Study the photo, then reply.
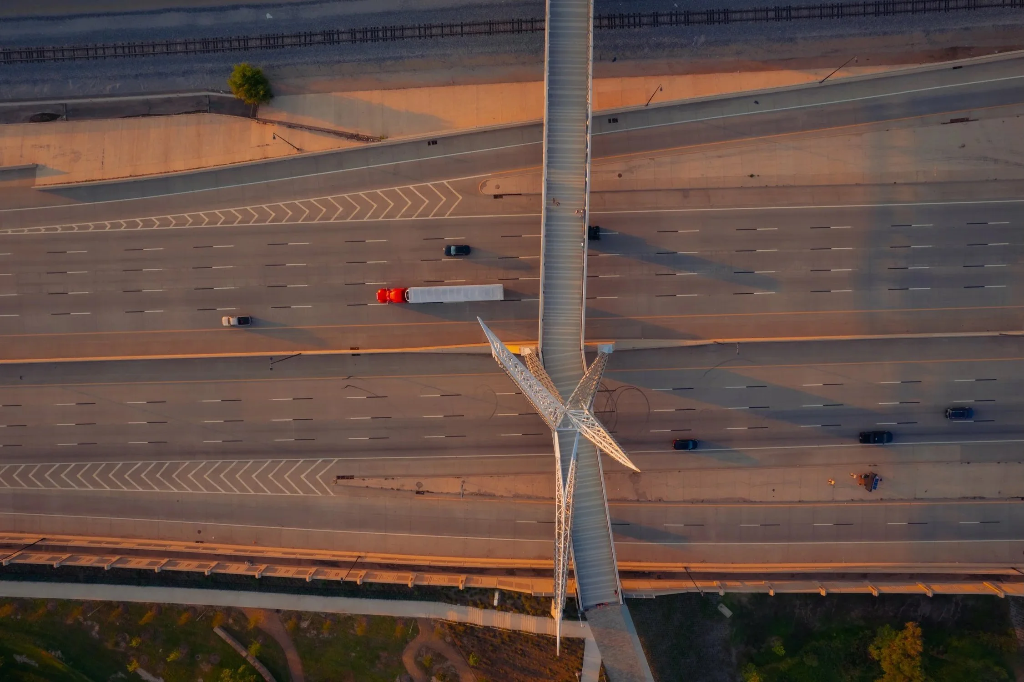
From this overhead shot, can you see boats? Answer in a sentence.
No, I find no boat anywhere in the image.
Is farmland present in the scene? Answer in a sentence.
No, farmland can't be seen anywhere here.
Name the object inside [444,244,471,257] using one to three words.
vehicle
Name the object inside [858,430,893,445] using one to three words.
vehicle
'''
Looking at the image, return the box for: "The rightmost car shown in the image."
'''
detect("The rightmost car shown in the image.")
[942,407,972,420]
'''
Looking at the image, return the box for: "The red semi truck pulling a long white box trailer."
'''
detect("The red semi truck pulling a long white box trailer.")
[376,284,504,305]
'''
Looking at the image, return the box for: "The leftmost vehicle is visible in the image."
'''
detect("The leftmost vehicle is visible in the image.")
[223,314,253,328]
